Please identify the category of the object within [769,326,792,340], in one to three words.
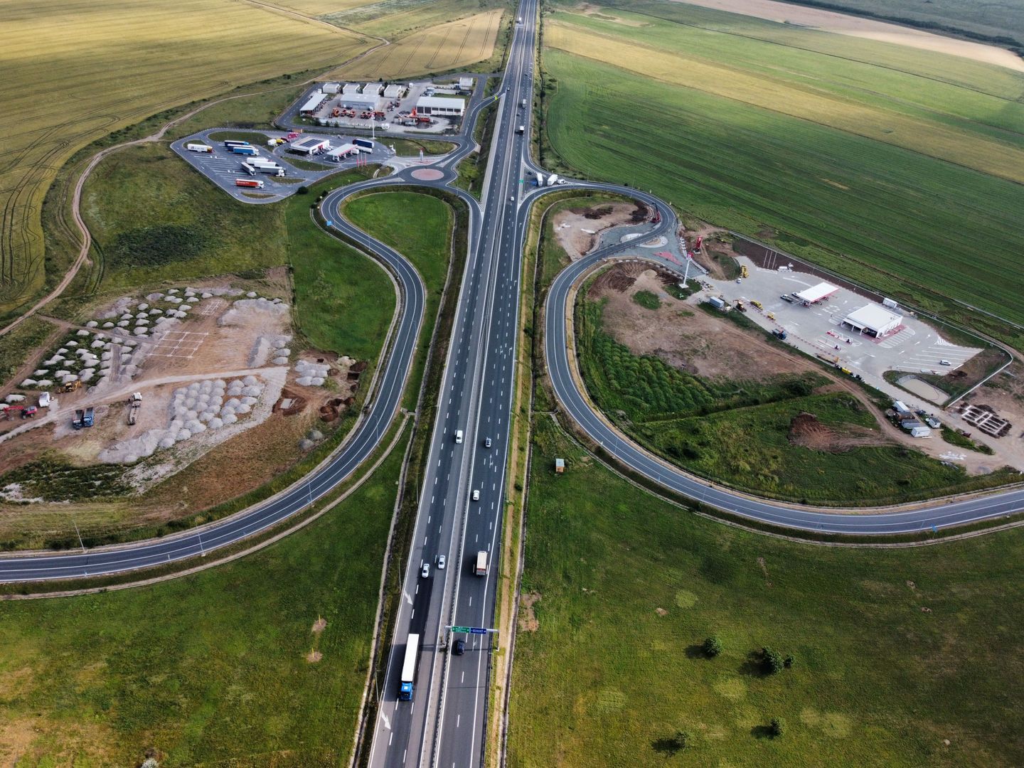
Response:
vehicle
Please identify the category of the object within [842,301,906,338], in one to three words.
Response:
building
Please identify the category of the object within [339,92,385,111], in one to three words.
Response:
building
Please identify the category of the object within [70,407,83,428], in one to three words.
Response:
vehicle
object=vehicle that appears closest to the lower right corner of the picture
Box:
[955,427,979,441]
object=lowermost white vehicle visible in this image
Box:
[398,631,419,698]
